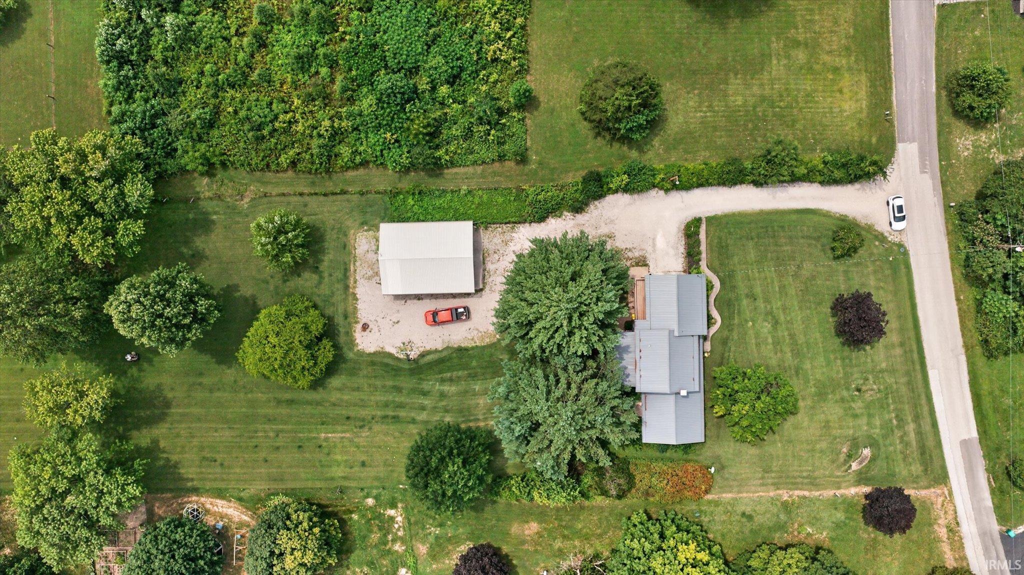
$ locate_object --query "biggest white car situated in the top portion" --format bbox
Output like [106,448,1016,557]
[885,197,908,231]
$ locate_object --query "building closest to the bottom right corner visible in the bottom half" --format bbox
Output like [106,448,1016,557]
[614,273,707,444]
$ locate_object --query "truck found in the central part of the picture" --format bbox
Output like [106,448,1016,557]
[424,305,472,327]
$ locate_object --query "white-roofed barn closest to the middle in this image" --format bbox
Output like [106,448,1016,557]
[378,220,482,296]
